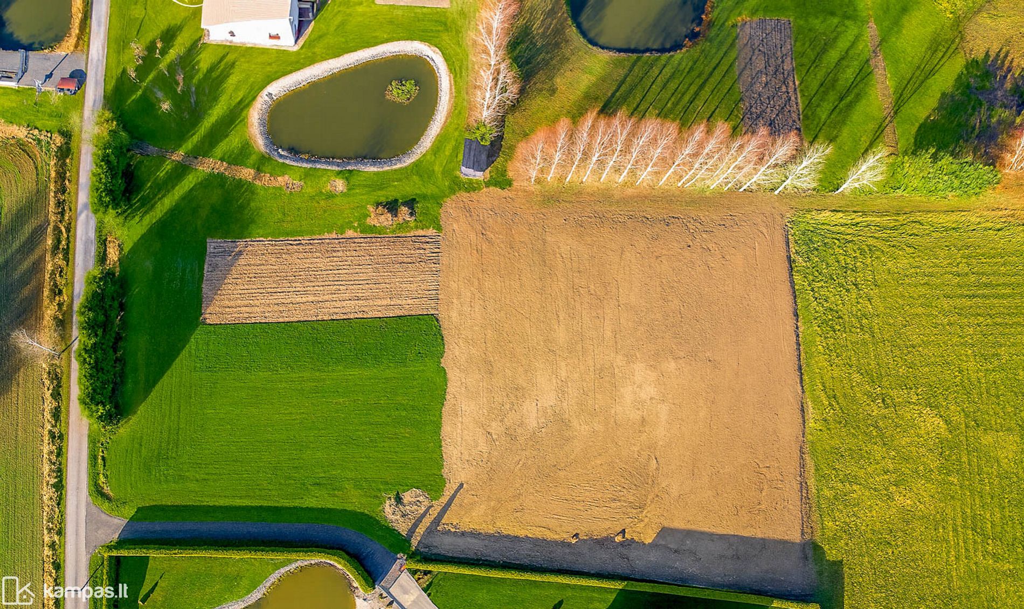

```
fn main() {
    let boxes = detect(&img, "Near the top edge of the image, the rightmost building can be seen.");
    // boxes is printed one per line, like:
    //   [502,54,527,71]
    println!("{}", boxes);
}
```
[196,0,313,47]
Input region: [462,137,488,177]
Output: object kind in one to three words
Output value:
shed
